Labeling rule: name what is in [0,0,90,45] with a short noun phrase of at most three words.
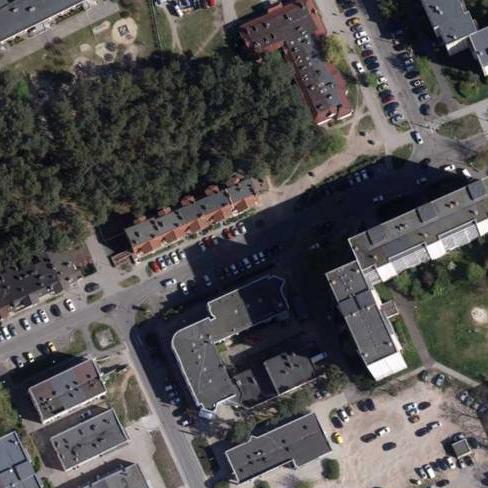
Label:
building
